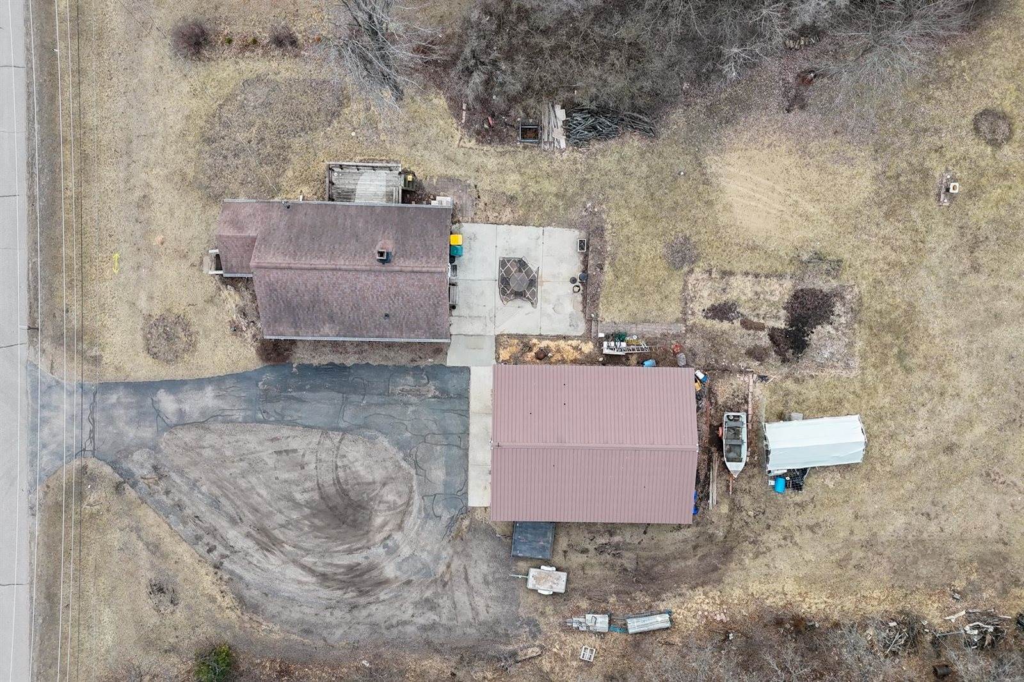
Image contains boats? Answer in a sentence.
Yes, the image includes a boat.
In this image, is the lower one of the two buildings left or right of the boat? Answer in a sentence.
Compared with the boat, the lower one of the two buildings is located further to the left.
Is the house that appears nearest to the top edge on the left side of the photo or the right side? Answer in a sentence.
It is on the left.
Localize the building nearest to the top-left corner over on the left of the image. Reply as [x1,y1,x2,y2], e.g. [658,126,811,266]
[216,198,452,344]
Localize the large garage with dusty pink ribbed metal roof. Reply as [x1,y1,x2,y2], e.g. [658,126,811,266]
[489,364,700,525]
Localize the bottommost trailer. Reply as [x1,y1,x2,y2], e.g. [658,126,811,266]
[509,563,567,597]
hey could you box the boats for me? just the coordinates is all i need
[722,411,746,478]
